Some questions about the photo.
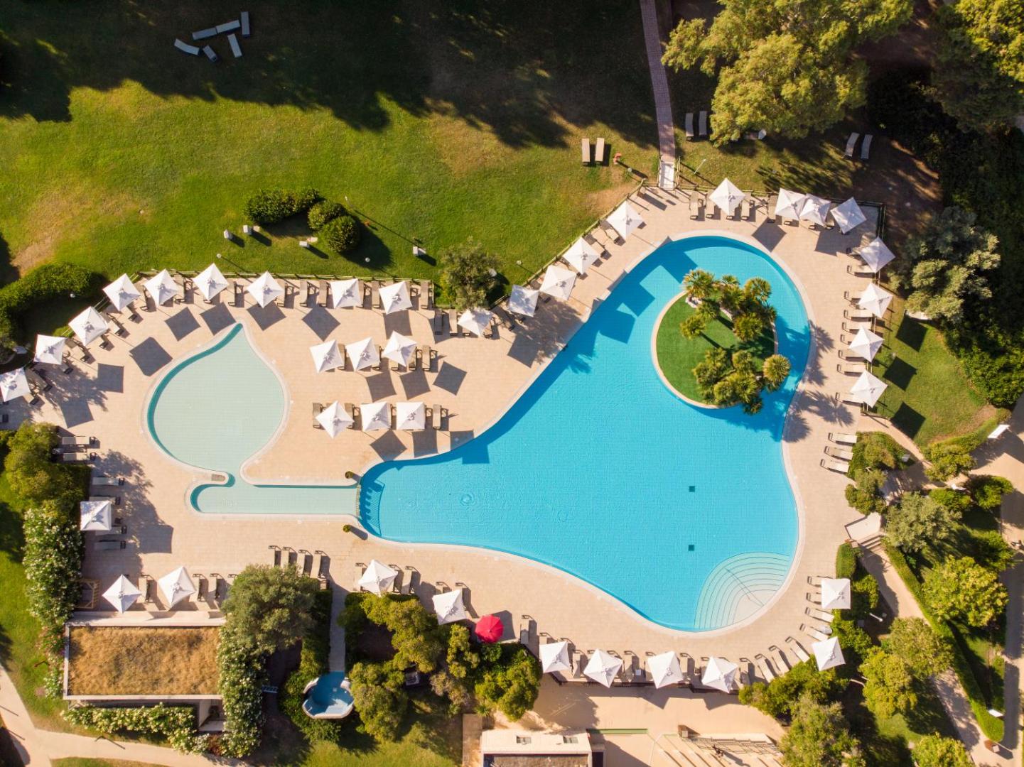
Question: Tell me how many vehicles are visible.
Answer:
zero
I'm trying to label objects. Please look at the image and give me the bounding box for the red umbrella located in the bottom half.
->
[475,615,504,644]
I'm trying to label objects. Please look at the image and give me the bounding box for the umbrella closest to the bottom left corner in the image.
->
[101,575,142,614]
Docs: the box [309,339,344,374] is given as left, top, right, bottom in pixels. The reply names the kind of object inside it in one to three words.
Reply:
umbrella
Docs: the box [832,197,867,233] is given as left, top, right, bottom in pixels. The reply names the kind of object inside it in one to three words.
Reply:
umbrella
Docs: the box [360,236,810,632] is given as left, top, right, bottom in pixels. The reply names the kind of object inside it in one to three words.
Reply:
swimming pool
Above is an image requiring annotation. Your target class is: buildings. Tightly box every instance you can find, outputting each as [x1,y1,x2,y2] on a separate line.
[486,730,590,767]
[64,612,232,698]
